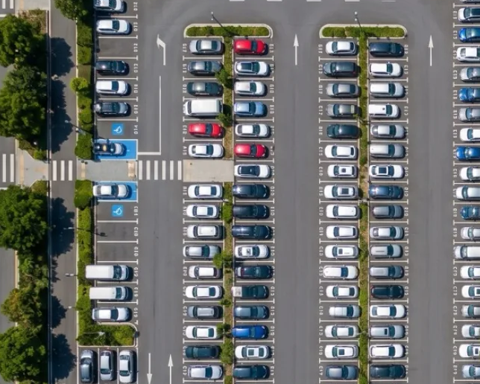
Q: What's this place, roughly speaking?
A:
parking lot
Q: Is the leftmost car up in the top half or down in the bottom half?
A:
bottom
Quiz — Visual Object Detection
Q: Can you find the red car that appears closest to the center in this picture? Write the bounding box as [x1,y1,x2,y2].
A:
[234,141,268,157]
